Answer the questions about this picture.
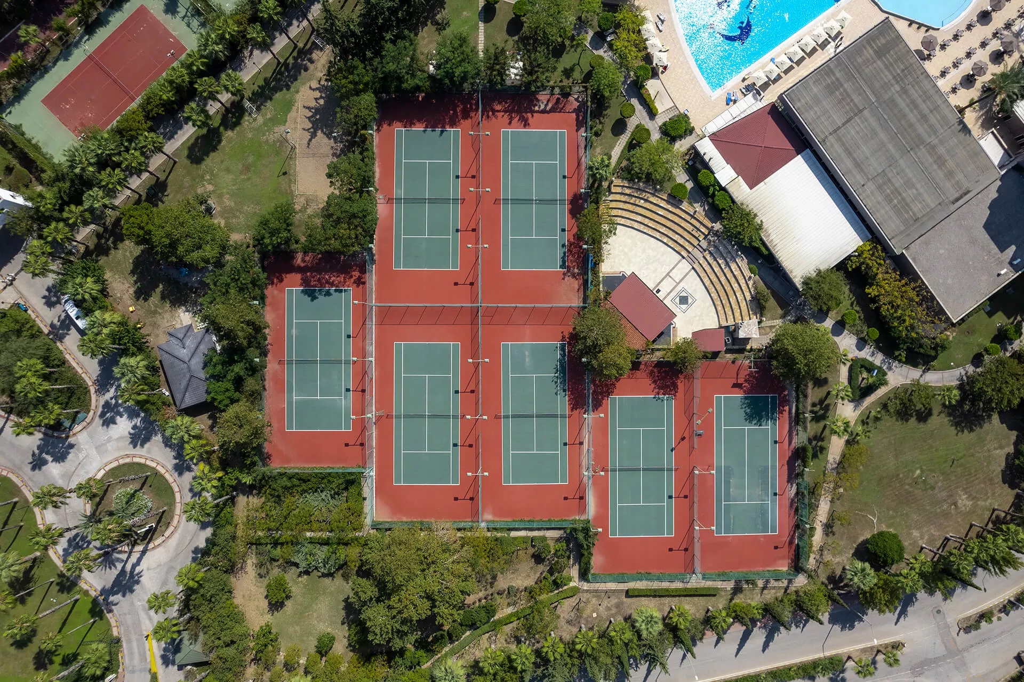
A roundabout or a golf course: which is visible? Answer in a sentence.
The image shows a roundabout.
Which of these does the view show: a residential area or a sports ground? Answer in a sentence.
The picture captures a sports ground.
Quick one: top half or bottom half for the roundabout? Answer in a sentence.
The roundabout is in the bottom half of the image.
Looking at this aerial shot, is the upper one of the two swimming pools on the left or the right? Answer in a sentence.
The upper one of the two swimming pools sits on the right side.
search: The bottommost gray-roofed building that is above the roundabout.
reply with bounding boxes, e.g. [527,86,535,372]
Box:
[160,324,221,410]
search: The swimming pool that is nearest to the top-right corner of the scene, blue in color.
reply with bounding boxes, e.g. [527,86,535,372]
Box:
[873,0,976,28]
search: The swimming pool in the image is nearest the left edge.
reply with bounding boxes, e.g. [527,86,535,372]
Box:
[669,0,852,96]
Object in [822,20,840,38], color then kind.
white umbrella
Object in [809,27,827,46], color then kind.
white umbrella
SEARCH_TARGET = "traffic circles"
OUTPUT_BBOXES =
[83,453,183,554]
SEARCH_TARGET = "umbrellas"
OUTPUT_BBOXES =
[750,69,768,88]
[992,35,1013,53]
[649,37,663,55]
[916,35,937,53]
[822,20,840,38]
[982,0,1004,15]
[773,55,791,73]
[797,36,815,54]
[653,53,668,68]
[809,27,827,46]
[965,61,987,78]
[834,11,852,29]
[785,45,804,62]
[762,63,780,81]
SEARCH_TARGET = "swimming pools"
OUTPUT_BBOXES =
[669,0,852,96]
[873,0,976,28]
